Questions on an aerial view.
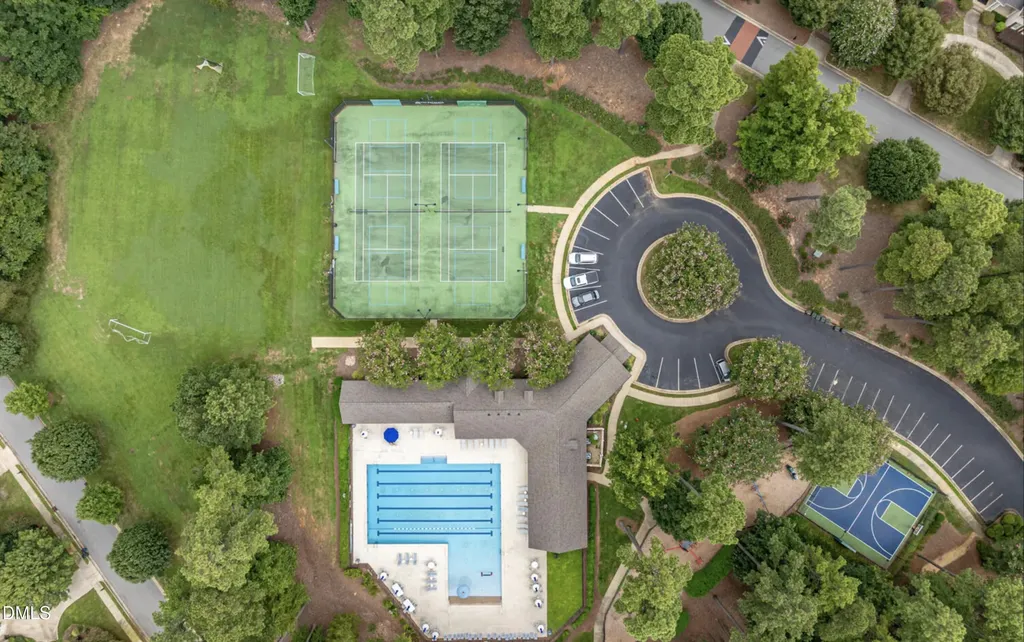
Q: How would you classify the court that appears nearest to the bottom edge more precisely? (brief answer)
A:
basketball court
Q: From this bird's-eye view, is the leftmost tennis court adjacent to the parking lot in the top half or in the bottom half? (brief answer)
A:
top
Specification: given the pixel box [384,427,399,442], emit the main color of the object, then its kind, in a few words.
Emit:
blue umbrella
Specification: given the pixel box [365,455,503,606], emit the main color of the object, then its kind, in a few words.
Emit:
blue swimming pool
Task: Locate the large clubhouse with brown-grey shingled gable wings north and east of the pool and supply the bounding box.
[339,333,632,553]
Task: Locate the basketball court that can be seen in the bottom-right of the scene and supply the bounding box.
[797,453,935,568]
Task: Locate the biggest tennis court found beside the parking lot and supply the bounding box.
[333,105,526,318]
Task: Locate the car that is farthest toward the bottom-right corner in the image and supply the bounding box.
[715,357,733,384]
